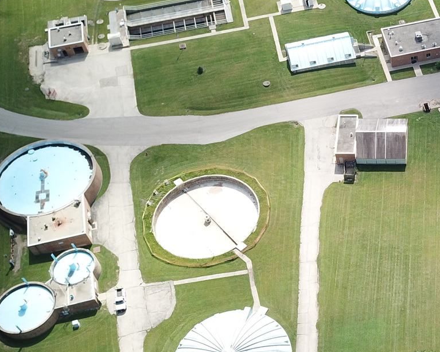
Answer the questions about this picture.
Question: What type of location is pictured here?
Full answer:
The area seen from above is an industrial area.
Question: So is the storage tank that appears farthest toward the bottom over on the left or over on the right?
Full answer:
The storage tank that appears farthest toward the bottom appears in the left half of the scene.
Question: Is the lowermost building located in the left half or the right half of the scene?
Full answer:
The lowermost building is on the left side of the image.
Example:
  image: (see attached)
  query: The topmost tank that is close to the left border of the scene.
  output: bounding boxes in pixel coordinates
[0,139,102,229]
